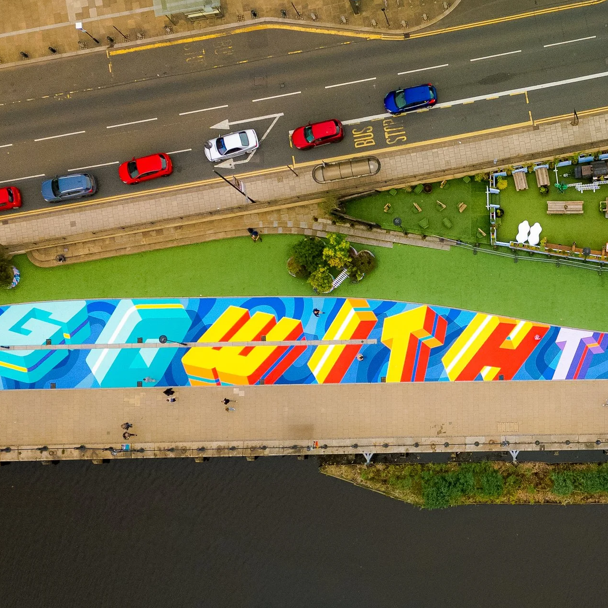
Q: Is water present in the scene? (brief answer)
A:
Yes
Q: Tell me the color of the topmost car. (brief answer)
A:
blue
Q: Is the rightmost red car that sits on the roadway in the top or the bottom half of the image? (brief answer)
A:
top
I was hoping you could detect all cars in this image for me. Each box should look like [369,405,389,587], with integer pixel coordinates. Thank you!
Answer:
[207,130,260,160]
[43,173,99,204]
[385,84,436,116]
[293,120,345,151]
[120,154,174,184]
[0,187,26,211]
